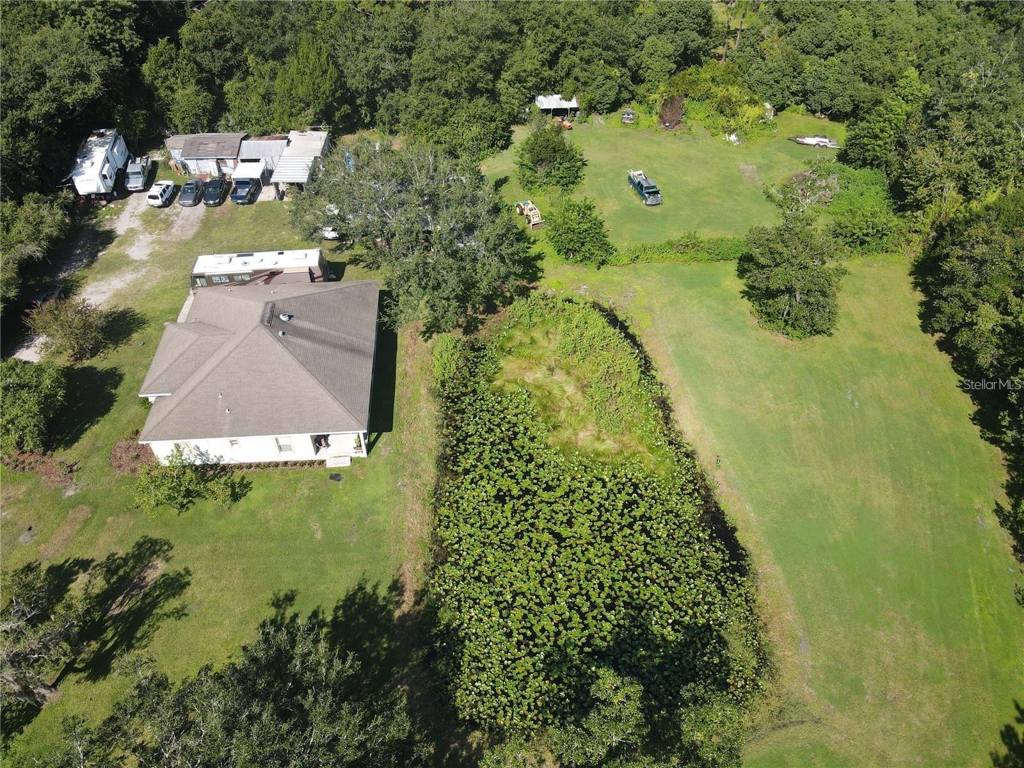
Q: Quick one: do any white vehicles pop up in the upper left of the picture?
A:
Yes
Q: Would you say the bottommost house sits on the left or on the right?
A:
left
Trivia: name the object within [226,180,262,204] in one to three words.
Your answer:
truck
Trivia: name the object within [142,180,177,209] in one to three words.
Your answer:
car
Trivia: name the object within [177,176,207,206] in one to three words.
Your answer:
car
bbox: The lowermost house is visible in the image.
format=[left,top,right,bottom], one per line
[138,278,383,467]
